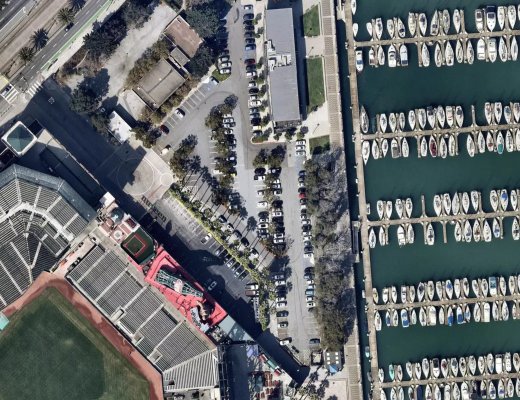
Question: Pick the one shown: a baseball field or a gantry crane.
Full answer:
The image shows a baseball field.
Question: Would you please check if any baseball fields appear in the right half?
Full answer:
No, there is no baseball field in the right half.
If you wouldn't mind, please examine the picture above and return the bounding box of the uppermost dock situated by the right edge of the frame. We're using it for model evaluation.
[355,8,520,68]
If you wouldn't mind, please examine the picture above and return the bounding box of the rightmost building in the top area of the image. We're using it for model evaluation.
[266,7,302,130]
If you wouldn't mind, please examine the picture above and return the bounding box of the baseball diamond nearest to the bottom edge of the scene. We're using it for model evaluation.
[0,264,166,400]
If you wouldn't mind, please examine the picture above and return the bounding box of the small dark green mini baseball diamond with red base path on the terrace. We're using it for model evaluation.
[120,227,156,268]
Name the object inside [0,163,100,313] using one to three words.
stadium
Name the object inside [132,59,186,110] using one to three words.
building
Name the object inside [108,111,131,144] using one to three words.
building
